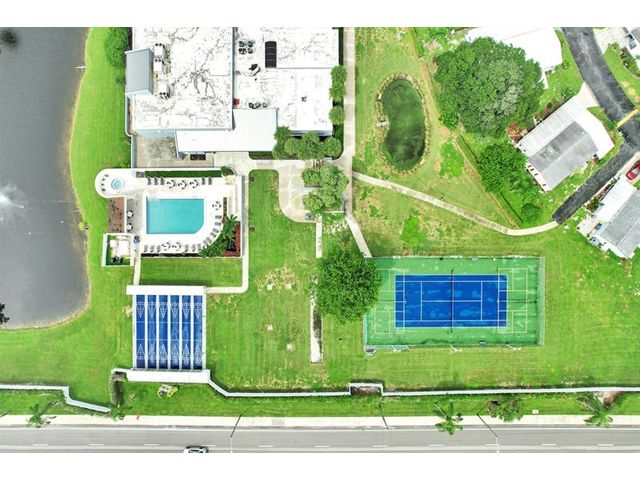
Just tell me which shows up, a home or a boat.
home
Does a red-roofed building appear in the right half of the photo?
No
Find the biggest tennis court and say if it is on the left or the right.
right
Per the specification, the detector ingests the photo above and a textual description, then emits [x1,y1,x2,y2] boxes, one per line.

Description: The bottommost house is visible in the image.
[589,177,640,261]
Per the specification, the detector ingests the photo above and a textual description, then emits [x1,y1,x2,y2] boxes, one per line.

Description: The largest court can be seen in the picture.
[366,258,538,346]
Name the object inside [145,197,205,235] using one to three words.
swimming pool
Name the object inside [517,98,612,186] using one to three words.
house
